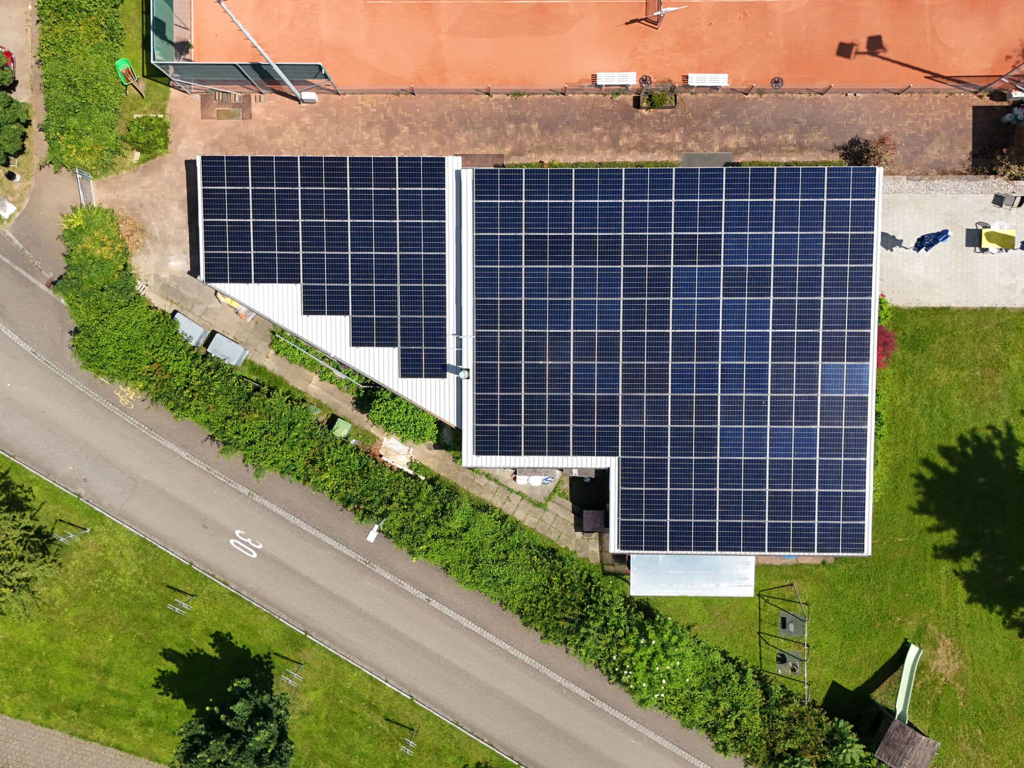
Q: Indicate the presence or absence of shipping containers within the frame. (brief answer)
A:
Yes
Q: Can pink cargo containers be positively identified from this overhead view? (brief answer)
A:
No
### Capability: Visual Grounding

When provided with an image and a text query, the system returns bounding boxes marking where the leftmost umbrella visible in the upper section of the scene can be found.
[902,229,953,255]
